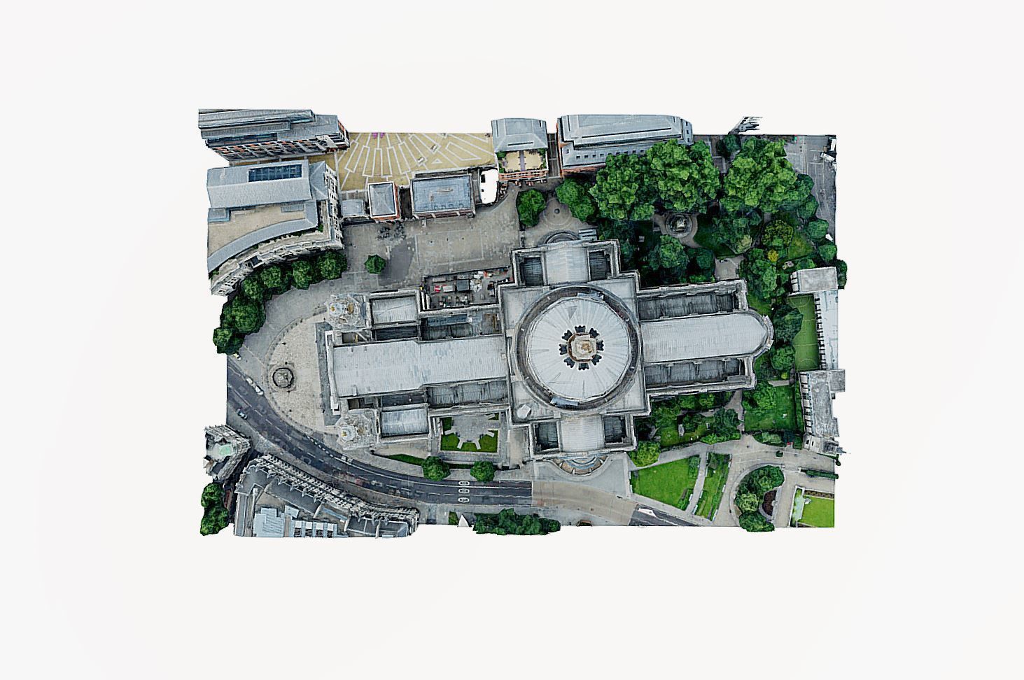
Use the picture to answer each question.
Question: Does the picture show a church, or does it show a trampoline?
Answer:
church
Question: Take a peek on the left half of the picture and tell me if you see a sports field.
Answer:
No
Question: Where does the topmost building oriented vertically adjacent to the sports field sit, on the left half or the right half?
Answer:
right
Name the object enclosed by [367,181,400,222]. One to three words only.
building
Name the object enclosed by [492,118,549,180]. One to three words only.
building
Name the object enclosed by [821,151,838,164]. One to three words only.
vehicle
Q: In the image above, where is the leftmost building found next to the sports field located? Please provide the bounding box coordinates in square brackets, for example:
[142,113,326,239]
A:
[317,222,770,482]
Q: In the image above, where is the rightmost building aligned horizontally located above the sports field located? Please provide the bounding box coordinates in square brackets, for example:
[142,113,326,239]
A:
[786,267,838,294]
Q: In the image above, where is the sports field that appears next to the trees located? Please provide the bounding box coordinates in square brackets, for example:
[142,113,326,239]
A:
[788,292,819,371]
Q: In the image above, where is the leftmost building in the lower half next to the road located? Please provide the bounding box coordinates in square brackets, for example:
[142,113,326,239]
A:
[202,425,250,487]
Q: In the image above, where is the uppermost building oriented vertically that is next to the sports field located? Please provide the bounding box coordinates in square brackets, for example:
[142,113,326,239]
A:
[810,290,839,370]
